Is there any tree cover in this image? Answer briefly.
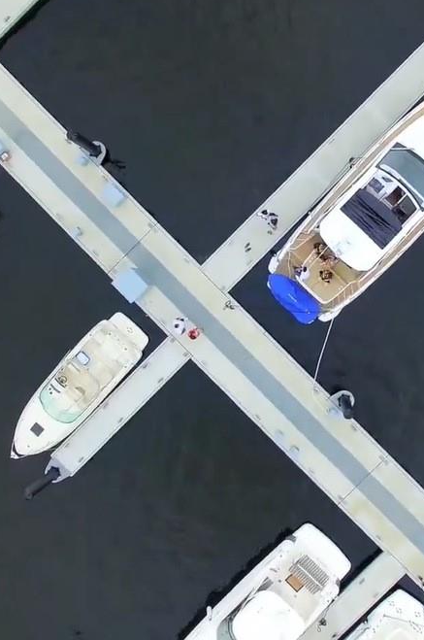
No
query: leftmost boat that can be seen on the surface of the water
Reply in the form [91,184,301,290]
[10,314,150,458]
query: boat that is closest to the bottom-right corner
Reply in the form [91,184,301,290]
[343,589,424,640]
